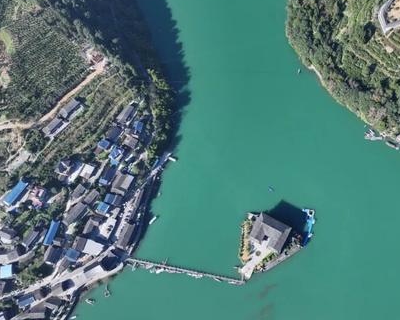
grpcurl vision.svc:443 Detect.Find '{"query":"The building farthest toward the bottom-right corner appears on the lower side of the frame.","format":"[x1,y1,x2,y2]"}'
[249,209,292,254]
